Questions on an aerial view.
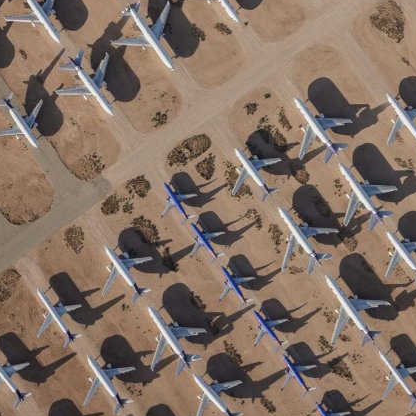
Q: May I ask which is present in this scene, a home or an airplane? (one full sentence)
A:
Visible in the photo is an airplane.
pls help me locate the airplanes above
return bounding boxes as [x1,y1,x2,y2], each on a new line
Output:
[148,307,205,373]
[199,0,238,22]
[316,403,350,416]
[53,51,113,115]
[383,232,416,285]
[109,0,173,69]
[103,246,153,302]
[3,0,59,43]
[338,163,397,229]
[219,266,255,309]
[190,223,224,263]
[0,360,31,406]
[254,312,288,351]
[161,183,197,224]
[385,94,416,154]
[0,94,41,147]
[282,355,317,397]
[294,98,353,163]
[325,276,390,349]
[232,149,280,202]
[278,208,339,275]
[82,355,135,414]
[37,289,82,347]
[379,352,416,408]
[193,374,242,416]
